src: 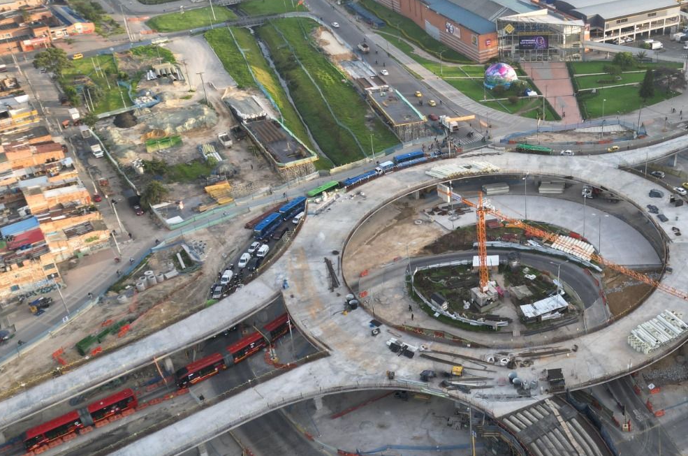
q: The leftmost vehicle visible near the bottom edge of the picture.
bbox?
[23,395,138,454]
